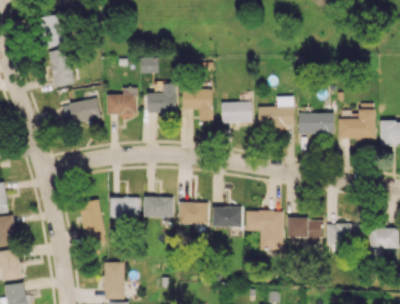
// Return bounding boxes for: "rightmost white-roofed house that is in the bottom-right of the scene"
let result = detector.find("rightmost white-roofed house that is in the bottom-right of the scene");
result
[370,228,399,248]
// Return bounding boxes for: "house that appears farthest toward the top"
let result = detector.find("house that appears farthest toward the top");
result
[42,16,60,46]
